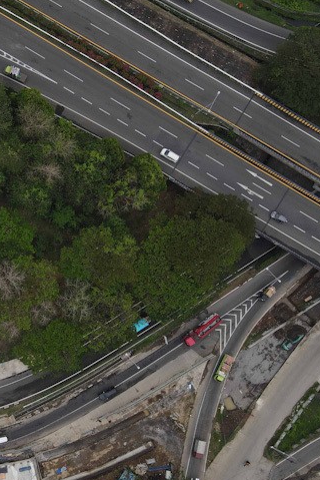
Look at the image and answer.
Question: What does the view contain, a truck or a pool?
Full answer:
This aerial view contains a truck.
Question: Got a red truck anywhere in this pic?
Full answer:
Yes, the picture does show a red truck.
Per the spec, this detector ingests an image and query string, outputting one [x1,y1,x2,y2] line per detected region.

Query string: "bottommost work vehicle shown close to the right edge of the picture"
[279,332,311,353]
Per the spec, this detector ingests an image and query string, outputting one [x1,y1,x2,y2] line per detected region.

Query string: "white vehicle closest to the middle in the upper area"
[160,146,183,163]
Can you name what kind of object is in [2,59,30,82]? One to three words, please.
truck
